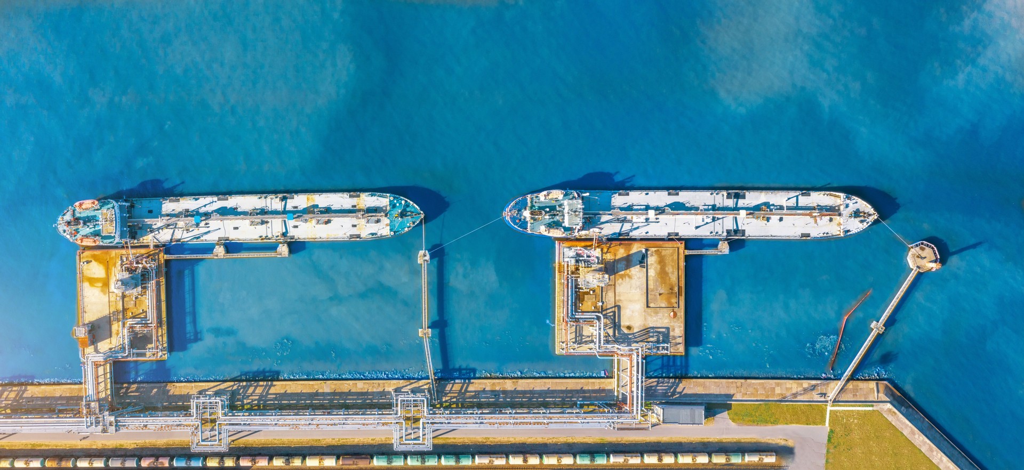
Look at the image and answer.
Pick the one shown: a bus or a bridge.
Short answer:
bridge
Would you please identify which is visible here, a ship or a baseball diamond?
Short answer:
ship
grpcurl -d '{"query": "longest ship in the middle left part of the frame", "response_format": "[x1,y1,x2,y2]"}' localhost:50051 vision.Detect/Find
[54,193,424,246]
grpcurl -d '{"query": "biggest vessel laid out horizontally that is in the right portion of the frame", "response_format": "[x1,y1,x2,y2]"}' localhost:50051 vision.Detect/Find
[502,191,879,240]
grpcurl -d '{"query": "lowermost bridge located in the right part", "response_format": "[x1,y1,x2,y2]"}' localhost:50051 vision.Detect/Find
[622,355,644,407]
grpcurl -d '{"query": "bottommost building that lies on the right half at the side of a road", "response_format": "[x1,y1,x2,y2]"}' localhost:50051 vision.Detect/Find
[654,404,704,425]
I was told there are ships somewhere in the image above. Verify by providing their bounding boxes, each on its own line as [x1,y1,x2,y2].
[502,191,879,240]
[54,193,424,246]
